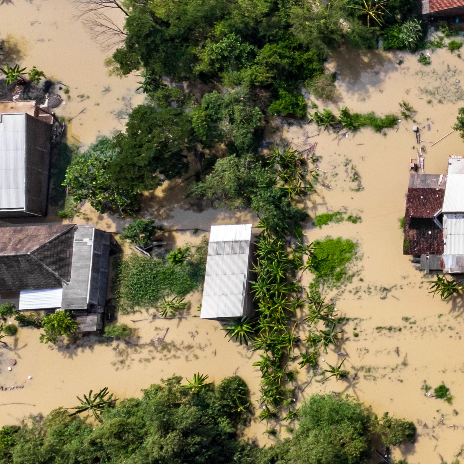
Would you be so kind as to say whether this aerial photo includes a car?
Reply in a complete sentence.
No, no car is visible in the view.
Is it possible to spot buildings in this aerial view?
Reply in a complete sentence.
Yes, there's a building down there.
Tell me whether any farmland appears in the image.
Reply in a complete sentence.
No, no farmland is visible.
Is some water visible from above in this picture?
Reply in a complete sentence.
Yes, water shows up in the scene.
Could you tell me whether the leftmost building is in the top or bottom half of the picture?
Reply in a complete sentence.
The top half of the photo is where the leftmost building is.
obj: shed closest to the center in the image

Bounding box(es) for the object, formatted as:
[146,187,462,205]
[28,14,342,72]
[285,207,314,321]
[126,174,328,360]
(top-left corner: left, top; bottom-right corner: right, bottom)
[201,224,264,319]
